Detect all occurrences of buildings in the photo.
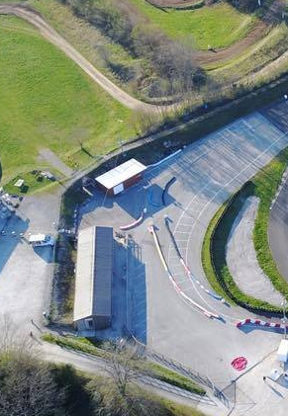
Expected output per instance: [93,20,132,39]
[95,160,148,201]
[74,218,114,338]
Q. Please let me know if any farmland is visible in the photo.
Yes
